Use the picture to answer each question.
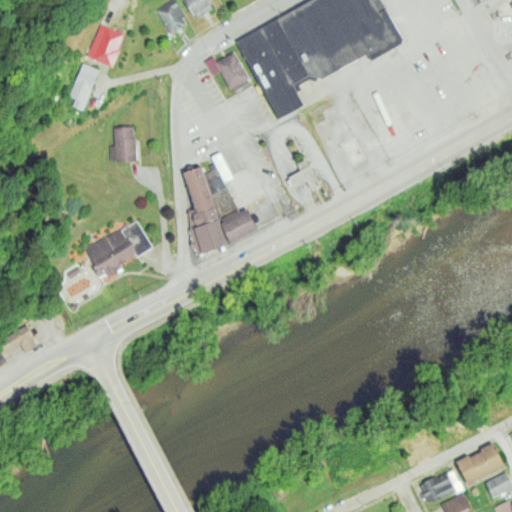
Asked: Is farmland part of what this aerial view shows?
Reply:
No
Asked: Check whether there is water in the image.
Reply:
Yes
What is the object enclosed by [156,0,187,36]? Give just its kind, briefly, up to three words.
house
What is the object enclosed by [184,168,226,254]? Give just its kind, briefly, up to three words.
building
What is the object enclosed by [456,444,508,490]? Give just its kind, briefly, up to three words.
house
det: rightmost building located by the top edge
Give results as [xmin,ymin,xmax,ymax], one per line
[235,0,402,118]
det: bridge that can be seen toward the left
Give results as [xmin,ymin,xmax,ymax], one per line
[96,352,194,512]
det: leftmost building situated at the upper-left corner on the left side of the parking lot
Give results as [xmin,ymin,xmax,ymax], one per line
[72,63,98,112]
